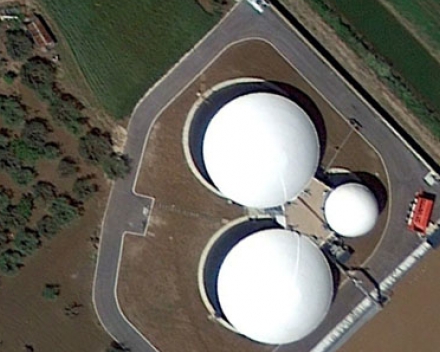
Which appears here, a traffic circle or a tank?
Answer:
tank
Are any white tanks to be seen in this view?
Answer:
Yes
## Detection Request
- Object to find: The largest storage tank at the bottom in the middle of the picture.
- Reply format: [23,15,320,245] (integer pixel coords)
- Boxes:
[196,213,334,344]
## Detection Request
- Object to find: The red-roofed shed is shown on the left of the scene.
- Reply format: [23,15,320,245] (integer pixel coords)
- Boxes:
[22,18,54,49]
